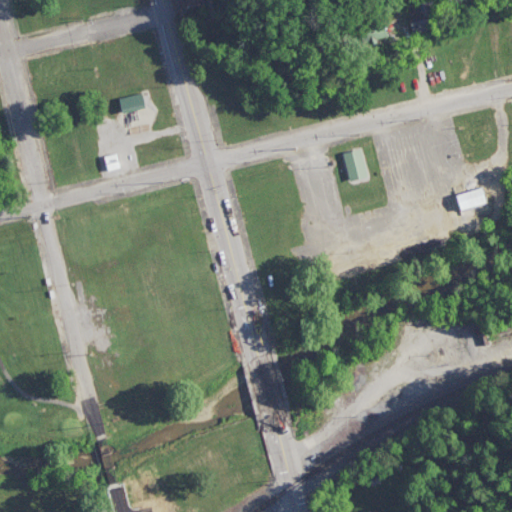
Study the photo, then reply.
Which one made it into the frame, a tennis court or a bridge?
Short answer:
bridge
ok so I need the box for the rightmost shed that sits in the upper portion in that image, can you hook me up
[457,186,488,212]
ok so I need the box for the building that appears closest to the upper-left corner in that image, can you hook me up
[120,94,144,112]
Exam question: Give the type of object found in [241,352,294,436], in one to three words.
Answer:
bridge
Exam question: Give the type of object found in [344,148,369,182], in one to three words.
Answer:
building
